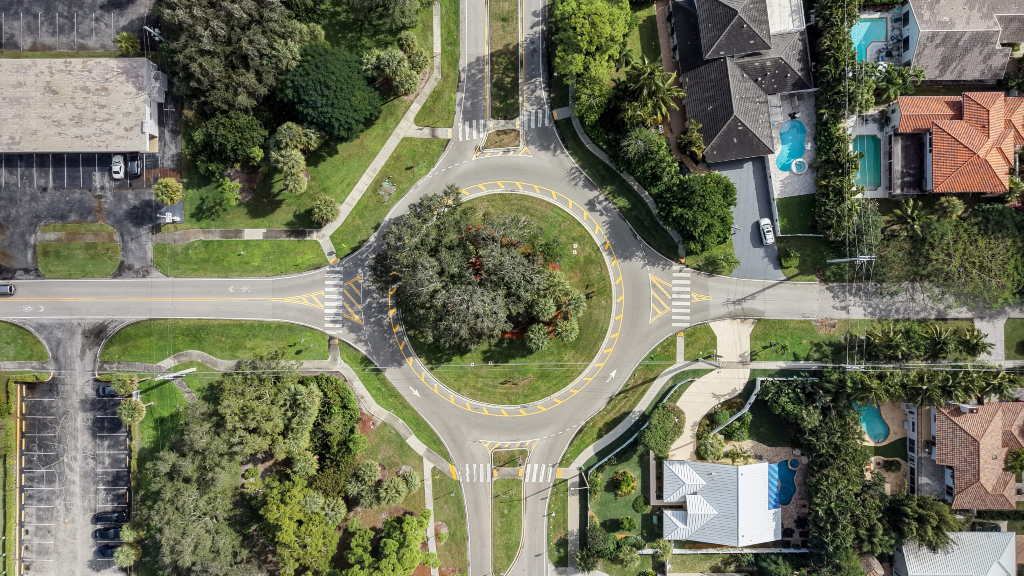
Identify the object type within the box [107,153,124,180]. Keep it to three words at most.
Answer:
car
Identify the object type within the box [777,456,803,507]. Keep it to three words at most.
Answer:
swimming pool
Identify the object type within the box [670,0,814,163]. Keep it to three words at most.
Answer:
house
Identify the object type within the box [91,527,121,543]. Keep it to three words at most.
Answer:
car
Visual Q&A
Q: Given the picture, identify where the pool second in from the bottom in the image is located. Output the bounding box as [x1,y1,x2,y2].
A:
[852,400,891,444]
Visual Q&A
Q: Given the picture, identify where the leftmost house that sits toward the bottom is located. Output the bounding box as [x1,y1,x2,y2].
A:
[662,459,782,547]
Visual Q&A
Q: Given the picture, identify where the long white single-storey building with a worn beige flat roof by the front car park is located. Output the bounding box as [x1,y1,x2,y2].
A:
[0,57,167,153]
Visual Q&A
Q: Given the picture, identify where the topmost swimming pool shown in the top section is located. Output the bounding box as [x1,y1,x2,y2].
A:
[846,17,887,64]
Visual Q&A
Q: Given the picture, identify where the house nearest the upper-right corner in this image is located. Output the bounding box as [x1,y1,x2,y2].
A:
[902,0,1024,80]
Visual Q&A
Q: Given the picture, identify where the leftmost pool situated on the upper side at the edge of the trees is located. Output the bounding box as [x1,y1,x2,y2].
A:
[775,119,809,174]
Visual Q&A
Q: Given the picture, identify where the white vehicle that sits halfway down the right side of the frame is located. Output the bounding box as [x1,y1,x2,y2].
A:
[758,215,778,246]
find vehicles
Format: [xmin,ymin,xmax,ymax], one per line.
[91,527,121,543]
[124,153,141,176]
[758,215,778,246]
[94,546,120,560]
[107,153,124,180]
[92,512,127,528]
[94,385,119,399]
[0,283,14,296]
